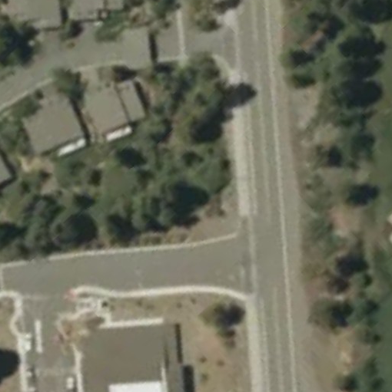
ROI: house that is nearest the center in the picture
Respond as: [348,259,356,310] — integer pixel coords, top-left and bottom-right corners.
[84,82,145,141]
